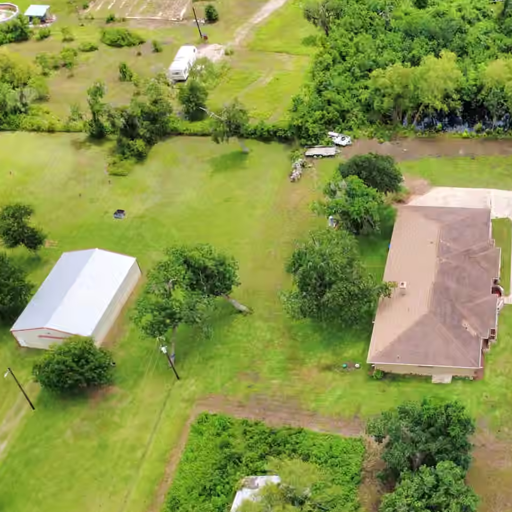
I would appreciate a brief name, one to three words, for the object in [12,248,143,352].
barn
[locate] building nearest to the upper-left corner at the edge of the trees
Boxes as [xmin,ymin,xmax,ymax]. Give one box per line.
[24,5,53,27]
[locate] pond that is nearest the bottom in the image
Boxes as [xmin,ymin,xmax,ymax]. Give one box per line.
[403,110,512,134]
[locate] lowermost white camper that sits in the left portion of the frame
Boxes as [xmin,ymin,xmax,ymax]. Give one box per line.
[171,44,196,81]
